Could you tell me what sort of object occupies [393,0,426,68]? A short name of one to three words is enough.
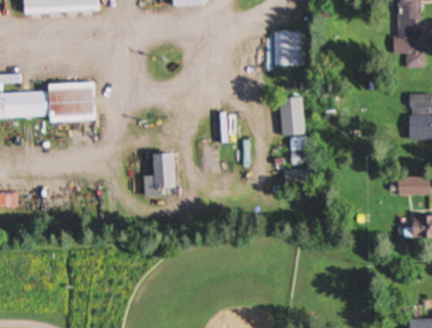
house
